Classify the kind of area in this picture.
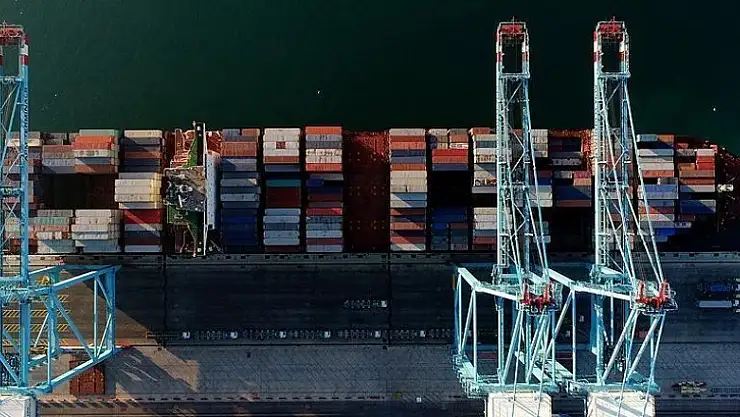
port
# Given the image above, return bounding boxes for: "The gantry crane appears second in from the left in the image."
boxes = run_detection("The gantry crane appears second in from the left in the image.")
[439,15,556,417]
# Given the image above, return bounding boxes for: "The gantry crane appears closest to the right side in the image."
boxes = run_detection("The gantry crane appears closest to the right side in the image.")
[520,15,669,417]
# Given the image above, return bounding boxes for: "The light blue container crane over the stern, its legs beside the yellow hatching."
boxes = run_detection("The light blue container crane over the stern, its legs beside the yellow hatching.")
[0,16,135,417]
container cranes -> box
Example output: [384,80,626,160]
[520,15,669,417]
[439,15,556,417]
[0,16,135,417]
